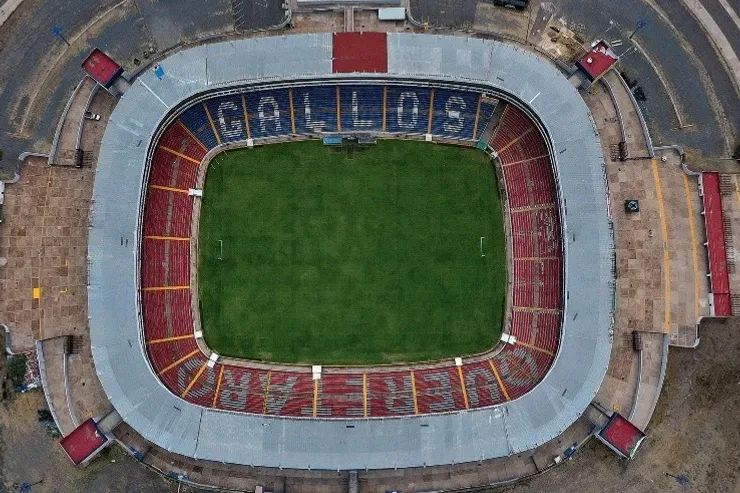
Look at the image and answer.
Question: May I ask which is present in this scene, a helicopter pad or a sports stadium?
sports stadium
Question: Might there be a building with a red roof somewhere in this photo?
Yes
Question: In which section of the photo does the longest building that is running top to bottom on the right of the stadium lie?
right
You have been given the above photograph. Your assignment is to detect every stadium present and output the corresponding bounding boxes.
[85,30,618,473]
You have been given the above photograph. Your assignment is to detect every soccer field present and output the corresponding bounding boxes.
[199,139,506,365]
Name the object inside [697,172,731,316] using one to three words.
building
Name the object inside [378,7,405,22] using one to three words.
building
